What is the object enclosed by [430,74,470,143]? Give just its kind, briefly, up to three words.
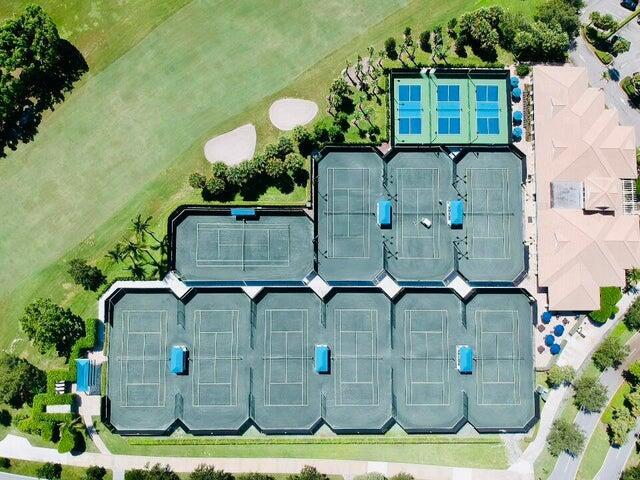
sports court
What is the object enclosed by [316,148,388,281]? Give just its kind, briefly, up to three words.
tennis court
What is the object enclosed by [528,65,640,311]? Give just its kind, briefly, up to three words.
building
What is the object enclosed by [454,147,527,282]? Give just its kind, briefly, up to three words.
tennis court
